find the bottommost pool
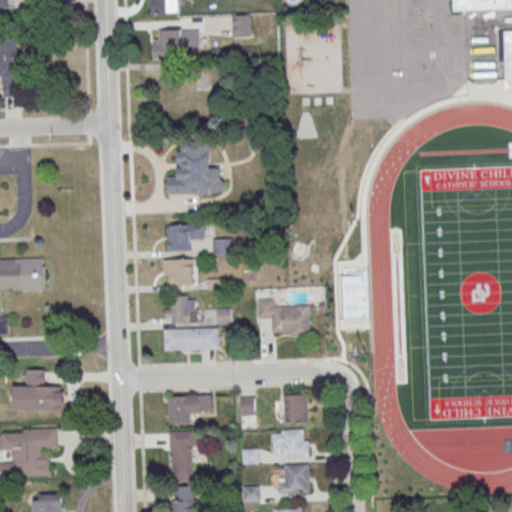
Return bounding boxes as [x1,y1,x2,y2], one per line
[286,291,308,306]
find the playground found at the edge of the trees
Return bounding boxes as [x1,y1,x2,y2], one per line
[285,24,343,95]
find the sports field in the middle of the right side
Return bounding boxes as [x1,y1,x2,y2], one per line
[390,126,512,433]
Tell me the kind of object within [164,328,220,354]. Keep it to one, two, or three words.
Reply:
house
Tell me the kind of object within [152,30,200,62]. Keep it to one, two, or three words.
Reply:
house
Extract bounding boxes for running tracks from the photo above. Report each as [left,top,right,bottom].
[368,104,512,497]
